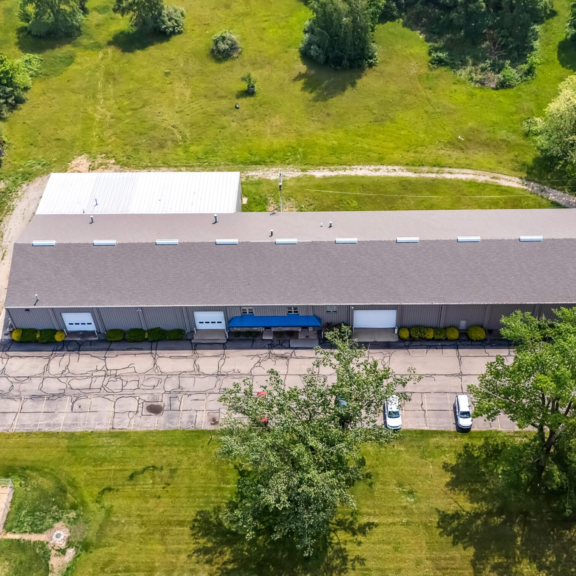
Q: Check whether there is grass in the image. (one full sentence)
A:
Yes, the picture does contain grass.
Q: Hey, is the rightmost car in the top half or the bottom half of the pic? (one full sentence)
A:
The rightmost car is in the bottom half of the image.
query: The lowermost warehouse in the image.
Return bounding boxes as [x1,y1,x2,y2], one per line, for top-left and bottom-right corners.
[4,209,576,331]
